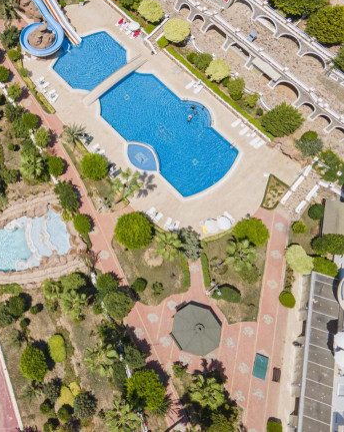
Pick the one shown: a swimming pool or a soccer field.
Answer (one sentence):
I can see a swimming pool in this picture.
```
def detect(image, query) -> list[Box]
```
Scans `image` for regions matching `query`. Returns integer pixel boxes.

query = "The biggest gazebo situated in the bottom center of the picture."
[168,305,222,354]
